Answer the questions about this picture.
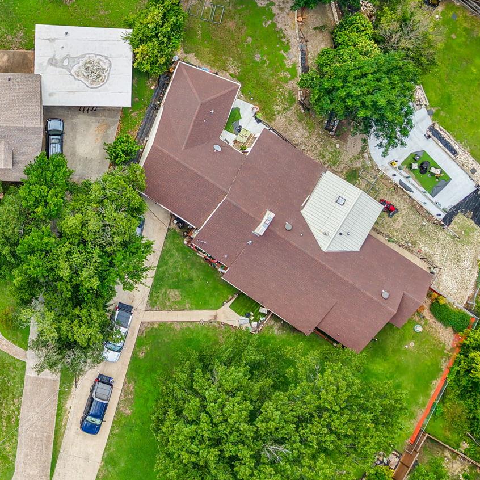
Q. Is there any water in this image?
No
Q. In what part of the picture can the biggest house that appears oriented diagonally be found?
center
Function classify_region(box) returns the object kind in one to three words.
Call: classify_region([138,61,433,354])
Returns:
house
